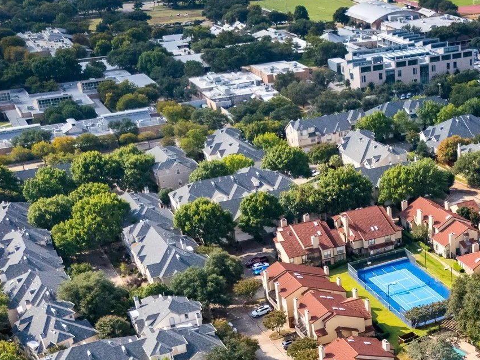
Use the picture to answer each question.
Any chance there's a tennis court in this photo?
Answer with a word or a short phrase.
Yes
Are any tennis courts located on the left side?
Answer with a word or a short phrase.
No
